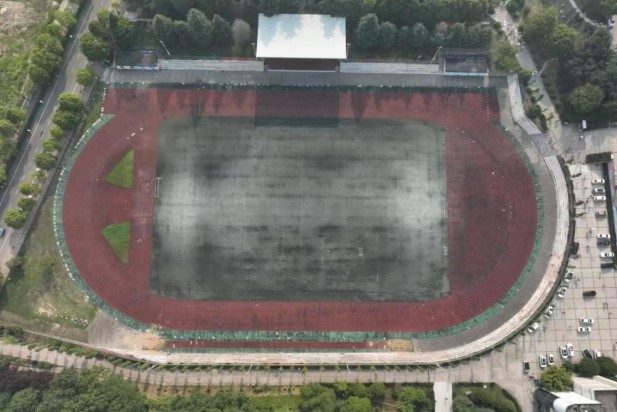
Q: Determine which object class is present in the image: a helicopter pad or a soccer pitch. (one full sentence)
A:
Visible in the photo is a soccer pitch.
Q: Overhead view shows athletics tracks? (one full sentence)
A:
Yes, the photo shows an athletics track.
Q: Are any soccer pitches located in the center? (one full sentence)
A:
Yes, the scene does show a soccer pitch in the center.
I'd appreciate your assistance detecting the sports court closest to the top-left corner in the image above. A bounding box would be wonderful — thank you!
[111,49,160,70]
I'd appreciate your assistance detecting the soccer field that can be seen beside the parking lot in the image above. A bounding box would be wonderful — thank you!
[151,117,448,301]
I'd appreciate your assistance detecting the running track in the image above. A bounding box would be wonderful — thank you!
[55,83,544,340]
